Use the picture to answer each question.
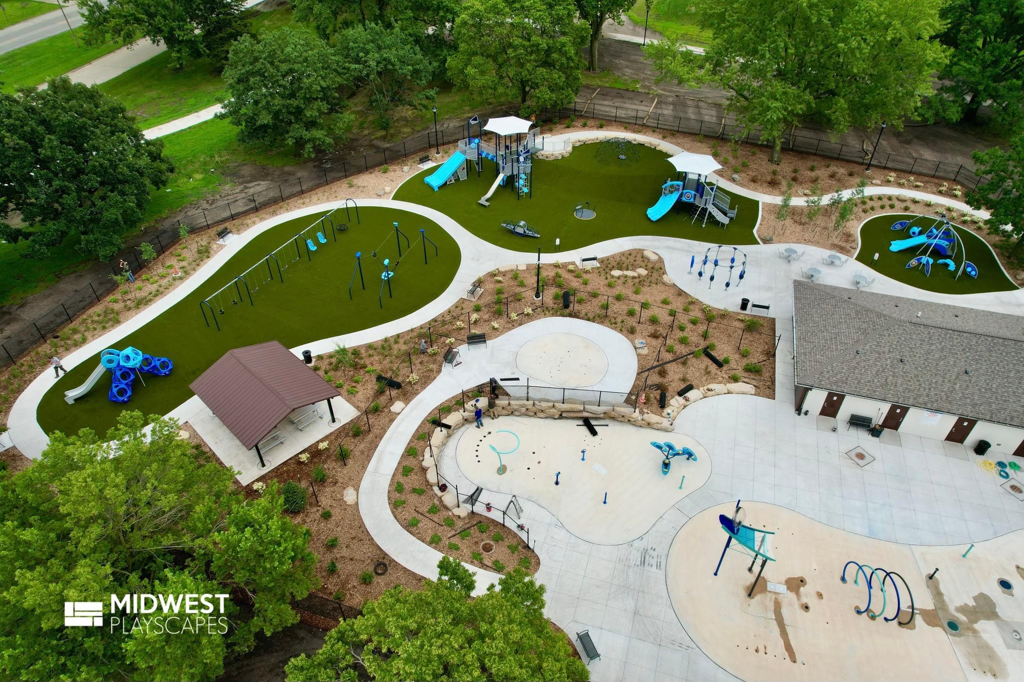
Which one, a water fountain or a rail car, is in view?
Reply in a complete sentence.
The image shows a water fountain.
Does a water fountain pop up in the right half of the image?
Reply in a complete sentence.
Yes, the scene does show a water fountain in the right half of the image.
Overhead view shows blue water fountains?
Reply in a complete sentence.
Yes, a blue water fountain can be made out from above.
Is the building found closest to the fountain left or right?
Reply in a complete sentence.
The building found closest to the fountain sits on the right side.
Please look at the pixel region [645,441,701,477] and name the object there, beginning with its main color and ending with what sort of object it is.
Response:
blue fountain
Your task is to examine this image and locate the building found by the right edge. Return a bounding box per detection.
[793,280,1024,455]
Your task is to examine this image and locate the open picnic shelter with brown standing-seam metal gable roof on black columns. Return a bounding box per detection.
[188,343,348,469]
